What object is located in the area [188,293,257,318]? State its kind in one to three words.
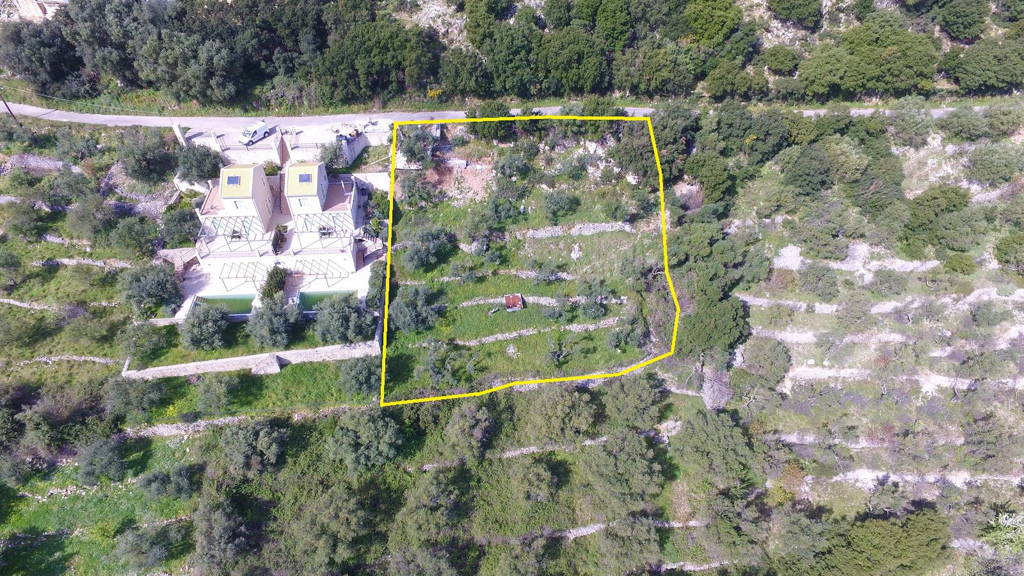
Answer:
swimming pool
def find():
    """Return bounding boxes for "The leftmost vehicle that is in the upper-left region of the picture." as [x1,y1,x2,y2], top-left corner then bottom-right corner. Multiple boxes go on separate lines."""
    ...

[234,111,271,145]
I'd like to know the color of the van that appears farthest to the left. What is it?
white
